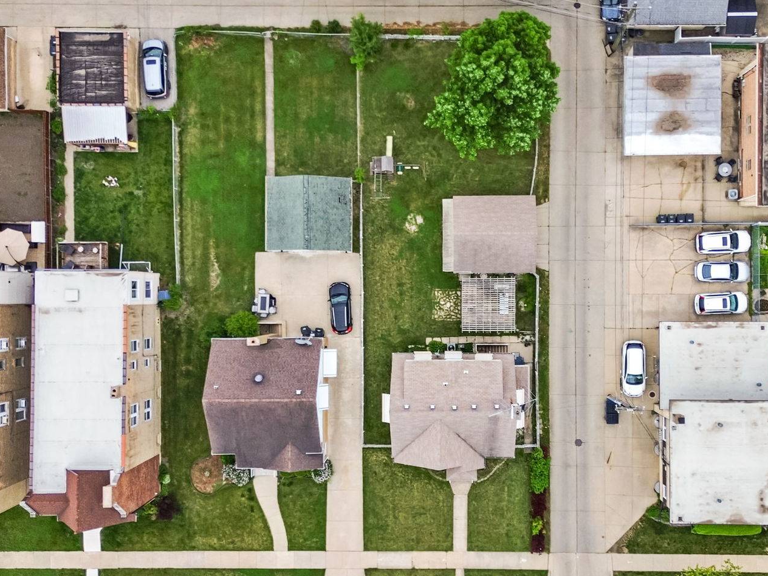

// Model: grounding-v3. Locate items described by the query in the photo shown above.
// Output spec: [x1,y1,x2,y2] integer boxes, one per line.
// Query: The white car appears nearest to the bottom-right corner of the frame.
[620,341,647,394]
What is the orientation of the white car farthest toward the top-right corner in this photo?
from side to side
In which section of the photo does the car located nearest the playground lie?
center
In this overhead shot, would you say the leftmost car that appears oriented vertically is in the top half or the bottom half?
top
